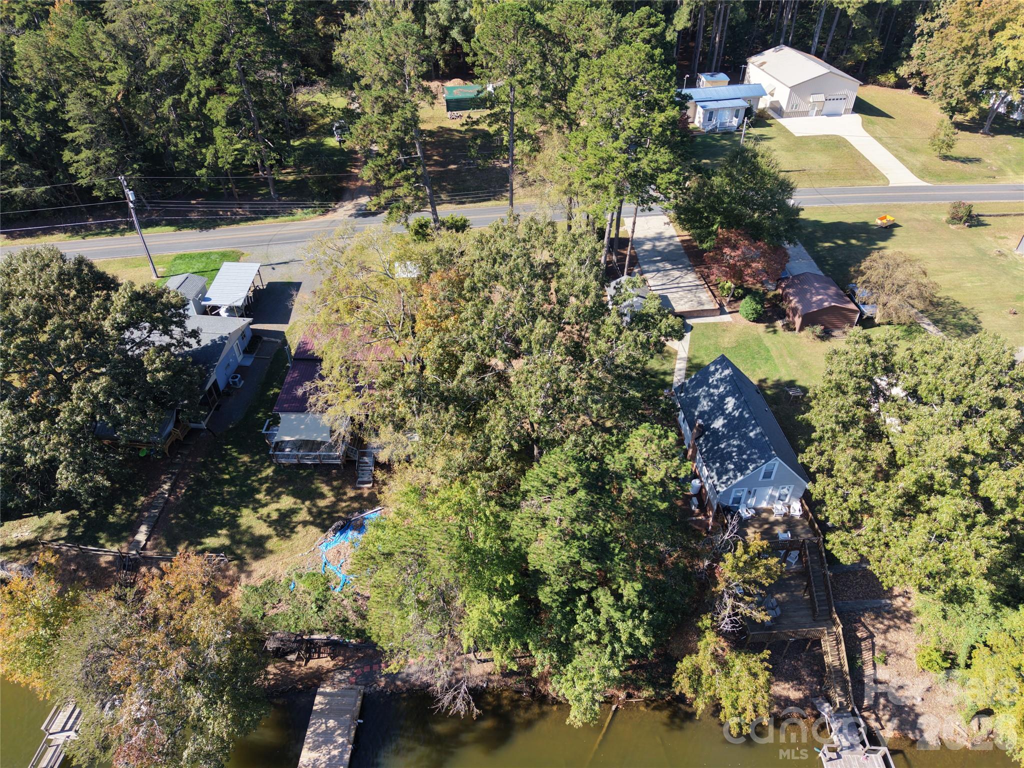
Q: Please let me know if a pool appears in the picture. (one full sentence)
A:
No, there isn't any pool down there.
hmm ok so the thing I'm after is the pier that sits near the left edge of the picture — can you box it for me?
[26,669,112,768]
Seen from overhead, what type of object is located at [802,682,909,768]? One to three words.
pier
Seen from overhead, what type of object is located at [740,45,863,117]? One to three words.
building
